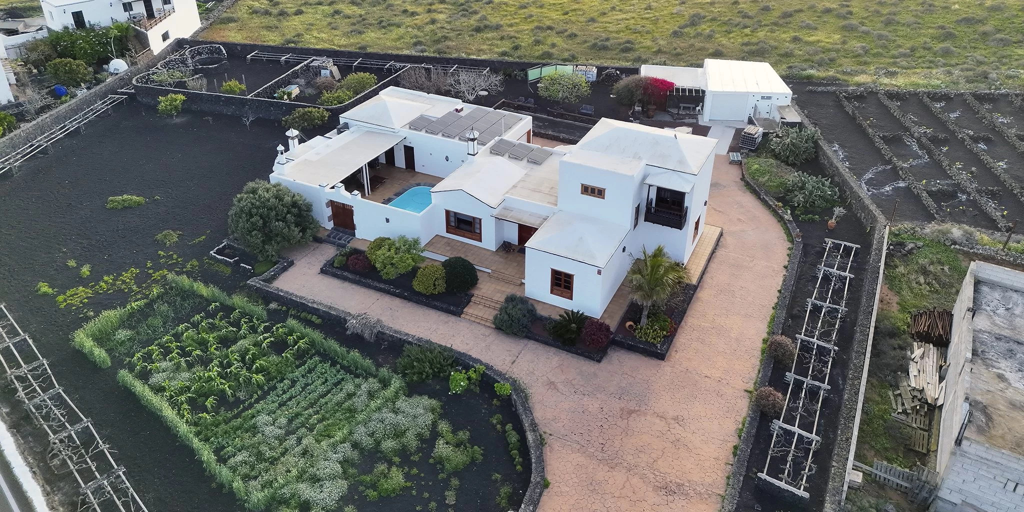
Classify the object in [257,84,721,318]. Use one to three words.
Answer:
house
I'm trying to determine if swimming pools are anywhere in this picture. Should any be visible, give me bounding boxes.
[381,182,439,236]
